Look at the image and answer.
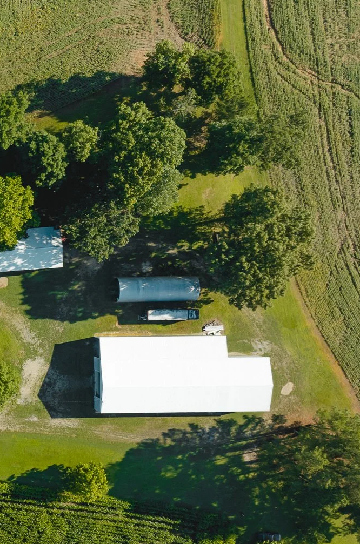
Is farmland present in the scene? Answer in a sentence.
Yes, farmland can be seen from above here.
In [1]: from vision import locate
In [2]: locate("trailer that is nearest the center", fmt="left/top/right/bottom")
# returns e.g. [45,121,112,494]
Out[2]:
[136,308,199,321]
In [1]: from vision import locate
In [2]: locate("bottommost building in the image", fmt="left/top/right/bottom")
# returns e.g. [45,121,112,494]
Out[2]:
[92,336,277,413]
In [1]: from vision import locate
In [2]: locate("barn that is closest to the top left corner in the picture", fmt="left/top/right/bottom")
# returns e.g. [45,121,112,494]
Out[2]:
[0,227,64,271]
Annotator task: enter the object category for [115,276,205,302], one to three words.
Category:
shed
